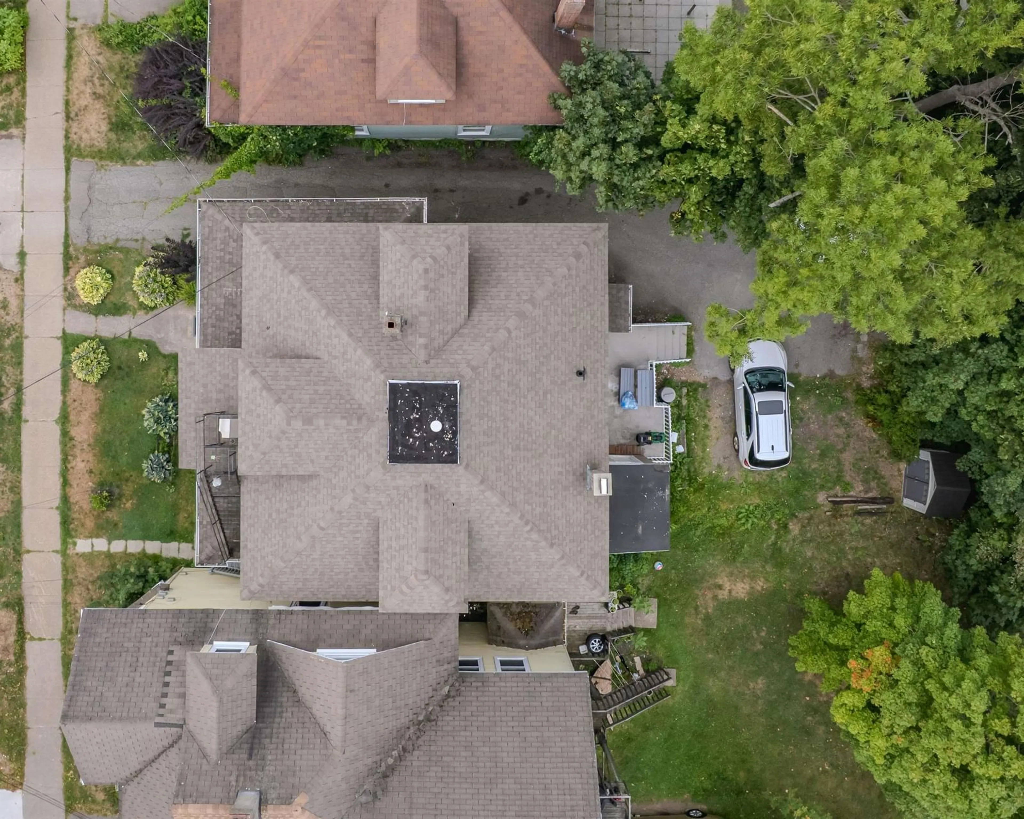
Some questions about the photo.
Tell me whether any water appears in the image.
No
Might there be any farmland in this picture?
No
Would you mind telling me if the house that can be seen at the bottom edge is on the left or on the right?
left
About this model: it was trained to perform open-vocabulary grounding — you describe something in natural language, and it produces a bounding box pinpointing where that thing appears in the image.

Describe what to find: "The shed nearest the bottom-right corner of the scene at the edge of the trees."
[899,450,973,519]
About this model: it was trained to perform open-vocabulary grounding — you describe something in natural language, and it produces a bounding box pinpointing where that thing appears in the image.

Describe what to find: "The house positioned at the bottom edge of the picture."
[61,573,604,819]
